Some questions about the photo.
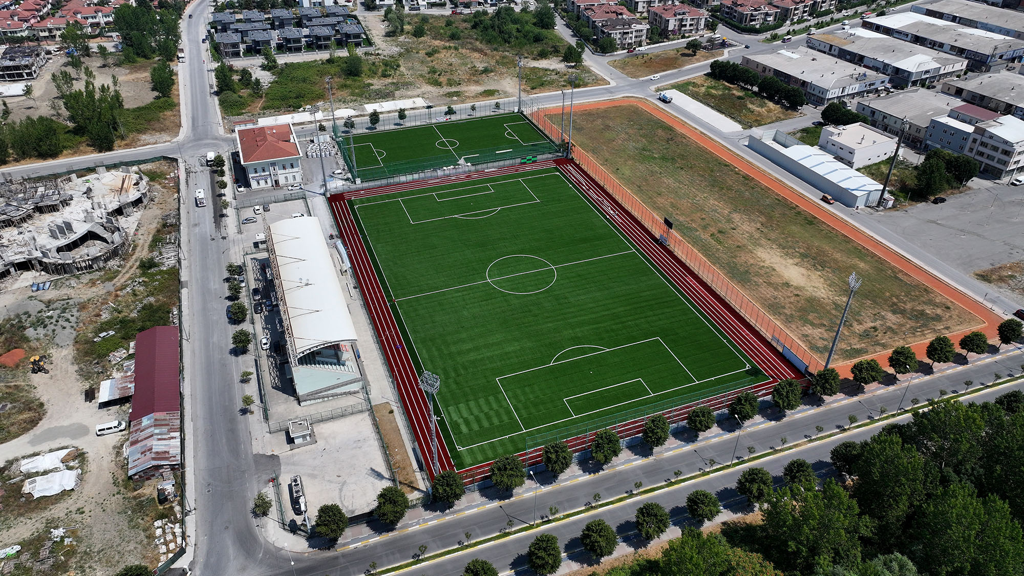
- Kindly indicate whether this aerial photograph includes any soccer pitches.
Yes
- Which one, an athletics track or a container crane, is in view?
athletics track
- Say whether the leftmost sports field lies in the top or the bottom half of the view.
top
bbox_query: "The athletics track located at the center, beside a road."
[327,156,811,498]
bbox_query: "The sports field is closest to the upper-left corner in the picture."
[342,112,554,179]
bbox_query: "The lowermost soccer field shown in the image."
[346,166,772,471]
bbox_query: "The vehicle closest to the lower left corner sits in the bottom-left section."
[94,420,124,437]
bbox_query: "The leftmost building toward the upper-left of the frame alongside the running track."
[235,121,303,189]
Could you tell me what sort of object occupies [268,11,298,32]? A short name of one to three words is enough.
house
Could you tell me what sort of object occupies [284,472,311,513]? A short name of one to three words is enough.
truck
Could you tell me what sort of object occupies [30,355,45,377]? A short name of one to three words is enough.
work vehicle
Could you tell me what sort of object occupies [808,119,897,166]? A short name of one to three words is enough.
building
